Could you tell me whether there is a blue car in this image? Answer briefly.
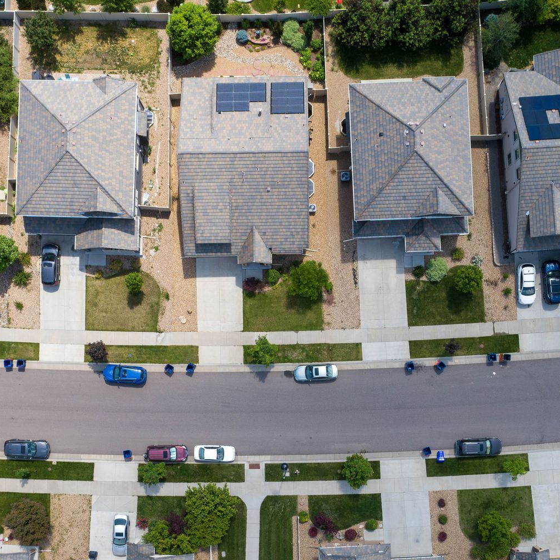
Yes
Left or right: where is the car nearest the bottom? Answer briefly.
left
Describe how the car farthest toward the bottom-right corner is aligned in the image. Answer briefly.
from left to right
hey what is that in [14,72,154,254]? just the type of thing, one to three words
house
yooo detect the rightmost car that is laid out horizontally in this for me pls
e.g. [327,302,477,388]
[453,436,501,458]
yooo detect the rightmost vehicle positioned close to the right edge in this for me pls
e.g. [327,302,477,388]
[540,260,560,305]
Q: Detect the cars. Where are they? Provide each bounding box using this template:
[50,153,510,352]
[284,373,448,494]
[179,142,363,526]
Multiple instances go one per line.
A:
[144,444,188,465]
[514,263,537,304]
[104,363,148,384]
[110,512,130,557]
[3,439,52,461]
[453,436,501,458]
[39,242,62,286]
[540,260,560,305]
[194,444,236,465]
[294,363,338,384]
